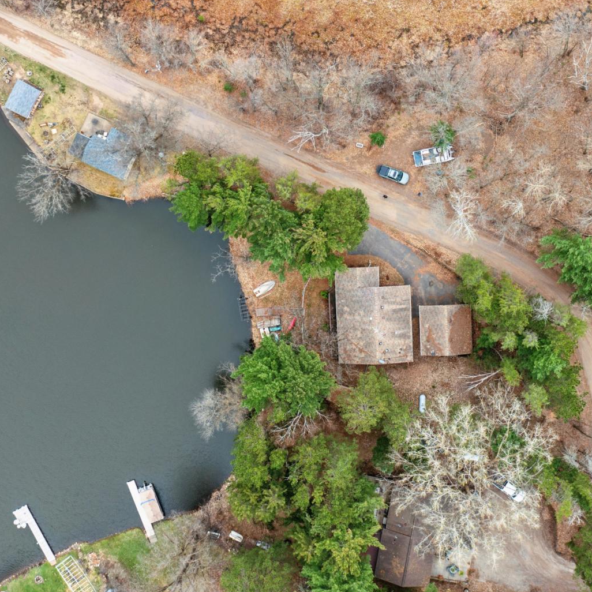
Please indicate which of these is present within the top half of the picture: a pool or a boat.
boat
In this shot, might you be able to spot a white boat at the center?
Yes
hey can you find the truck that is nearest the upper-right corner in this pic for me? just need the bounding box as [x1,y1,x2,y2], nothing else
[374,163,411,186]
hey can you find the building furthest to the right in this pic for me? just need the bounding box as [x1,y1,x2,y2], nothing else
[419,304,472,356]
